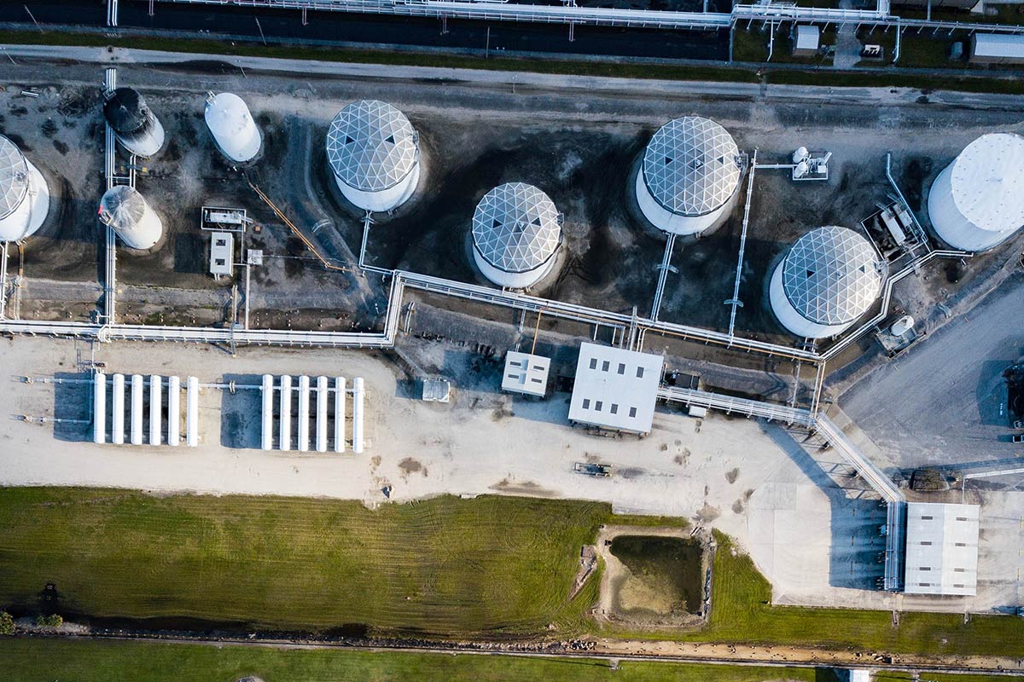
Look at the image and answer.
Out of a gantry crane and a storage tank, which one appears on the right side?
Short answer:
storage tank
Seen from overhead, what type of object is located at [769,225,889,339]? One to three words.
storage tank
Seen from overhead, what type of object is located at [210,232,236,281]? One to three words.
shed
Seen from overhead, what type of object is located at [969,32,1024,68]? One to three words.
shed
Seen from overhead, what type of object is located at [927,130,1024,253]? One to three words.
storage tank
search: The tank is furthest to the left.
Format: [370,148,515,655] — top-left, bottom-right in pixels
[0,136,51,241]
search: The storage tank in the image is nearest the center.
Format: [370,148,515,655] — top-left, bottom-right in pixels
[472,181,567,288]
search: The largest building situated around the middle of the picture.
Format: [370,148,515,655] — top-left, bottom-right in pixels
[569,342,664,438]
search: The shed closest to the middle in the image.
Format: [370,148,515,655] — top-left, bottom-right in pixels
[502,351,551,400]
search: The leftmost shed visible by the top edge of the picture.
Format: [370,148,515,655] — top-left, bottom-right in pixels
[793,24,820,55]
